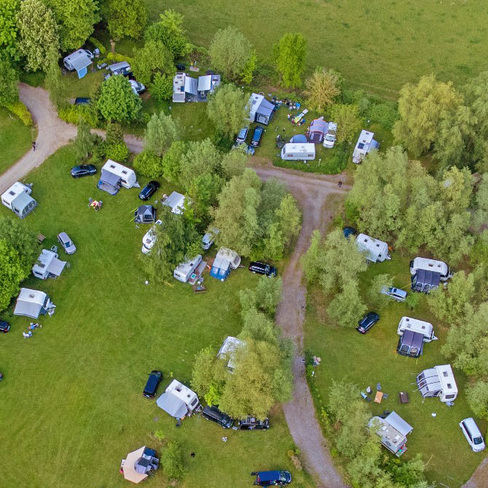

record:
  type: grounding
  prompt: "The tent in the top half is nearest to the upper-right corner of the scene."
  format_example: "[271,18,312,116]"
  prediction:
[304,114,327,139]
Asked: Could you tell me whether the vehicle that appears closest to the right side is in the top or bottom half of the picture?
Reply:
bottom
